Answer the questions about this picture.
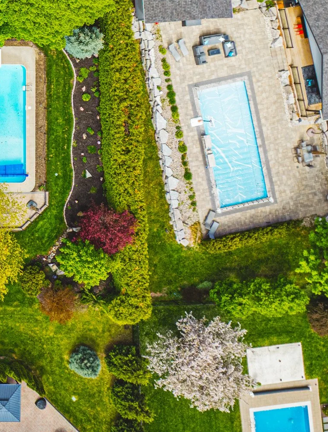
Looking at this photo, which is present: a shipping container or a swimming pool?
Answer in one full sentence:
It is a swimming pool that can be seen here.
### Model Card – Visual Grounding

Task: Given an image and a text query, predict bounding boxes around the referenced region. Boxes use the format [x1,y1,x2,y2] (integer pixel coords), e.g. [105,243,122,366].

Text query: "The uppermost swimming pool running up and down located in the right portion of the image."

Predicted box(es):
[199,80,268,209]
